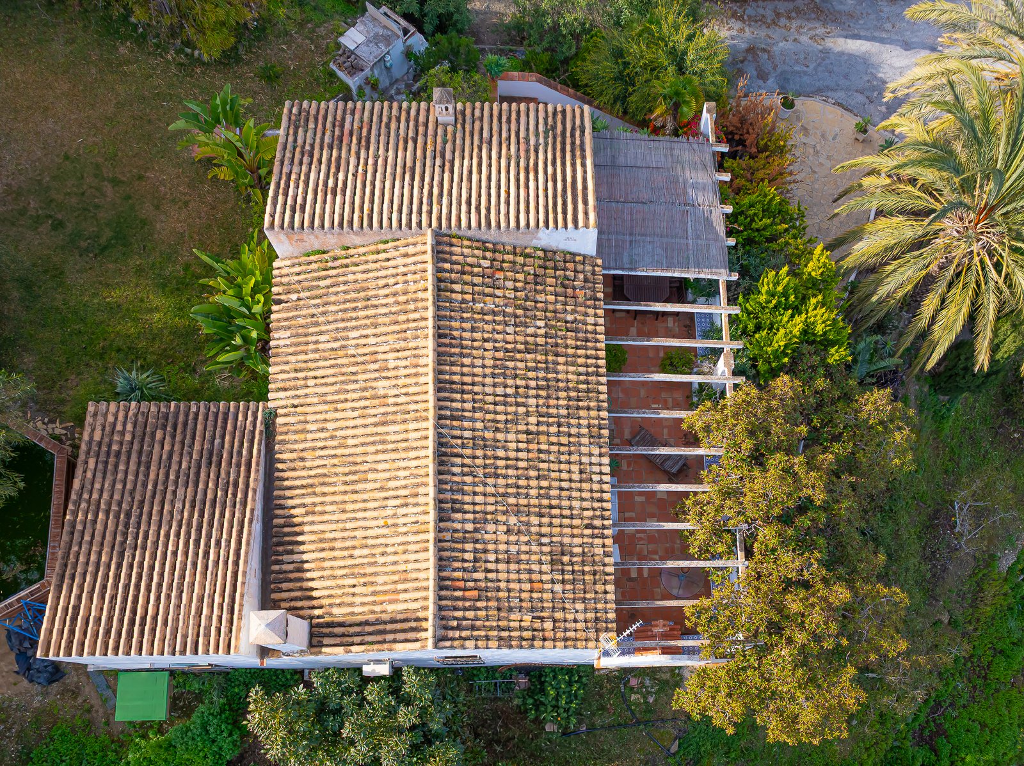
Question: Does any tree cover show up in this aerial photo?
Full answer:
Yes, the picture does contain tree cover.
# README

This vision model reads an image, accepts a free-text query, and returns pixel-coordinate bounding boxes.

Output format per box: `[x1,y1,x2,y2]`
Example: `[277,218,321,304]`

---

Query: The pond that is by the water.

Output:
[0,419,78,623]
